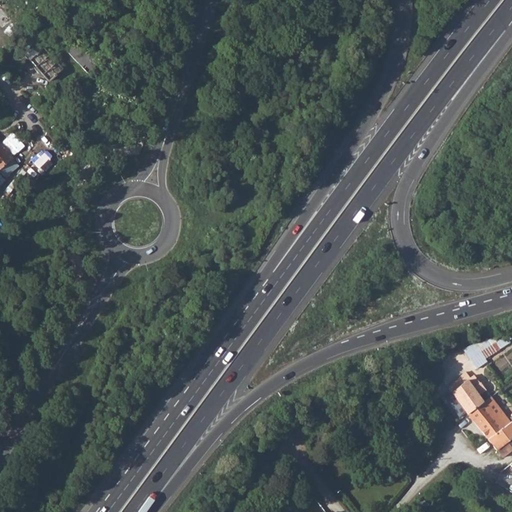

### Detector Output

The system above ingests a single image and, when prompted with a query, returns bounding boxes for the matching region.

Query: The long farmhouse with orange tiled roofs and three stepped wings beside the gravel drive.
[454,371,512,459]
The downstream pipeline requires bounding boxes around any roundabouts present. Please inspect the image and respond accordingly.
[94,140,181,276]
